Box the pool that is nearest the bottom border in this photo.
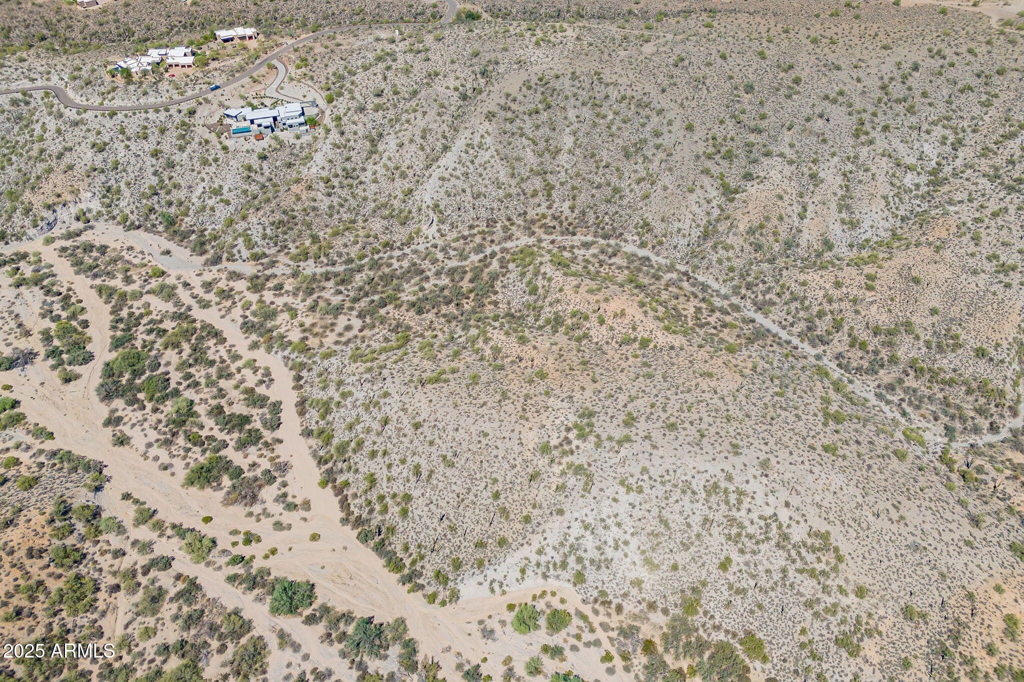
[232,125,253,138]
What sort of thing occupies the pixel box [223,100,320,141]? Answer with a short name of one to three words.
house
